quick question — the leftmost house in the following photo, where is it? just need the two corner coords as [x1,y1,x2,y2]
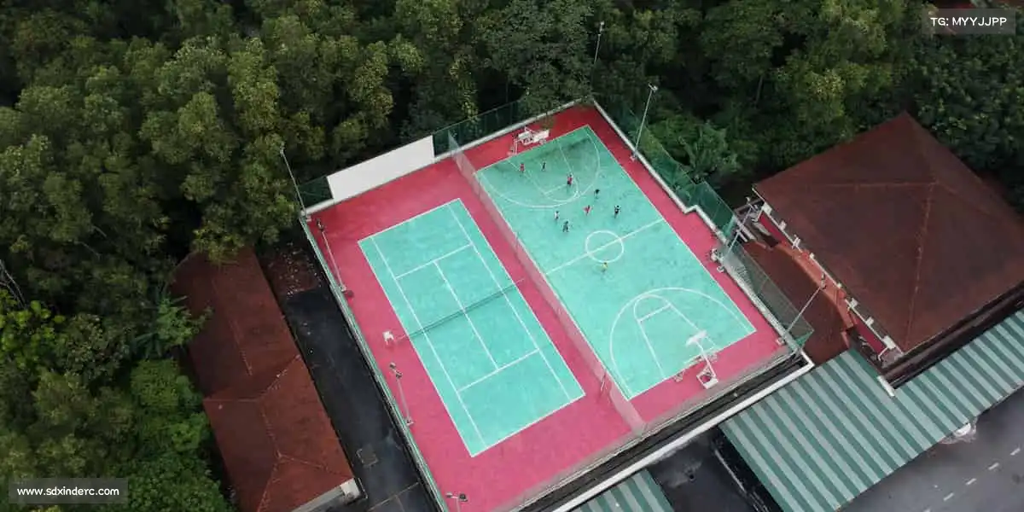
[164,227,368,512]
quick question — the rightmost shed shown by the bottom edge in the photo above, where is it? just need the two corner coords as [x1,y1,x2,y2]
[724,313,1024,512]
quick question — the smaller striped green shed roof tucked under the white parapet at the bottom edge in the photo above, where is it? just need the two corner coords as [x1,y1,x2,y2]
[579,472,672,512]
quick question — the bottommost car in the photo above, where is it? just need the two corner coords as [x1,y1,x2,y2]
[949,419,971,439]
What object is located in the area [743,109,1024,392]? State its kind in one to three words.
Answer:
building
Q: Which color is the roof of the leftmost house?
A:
red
